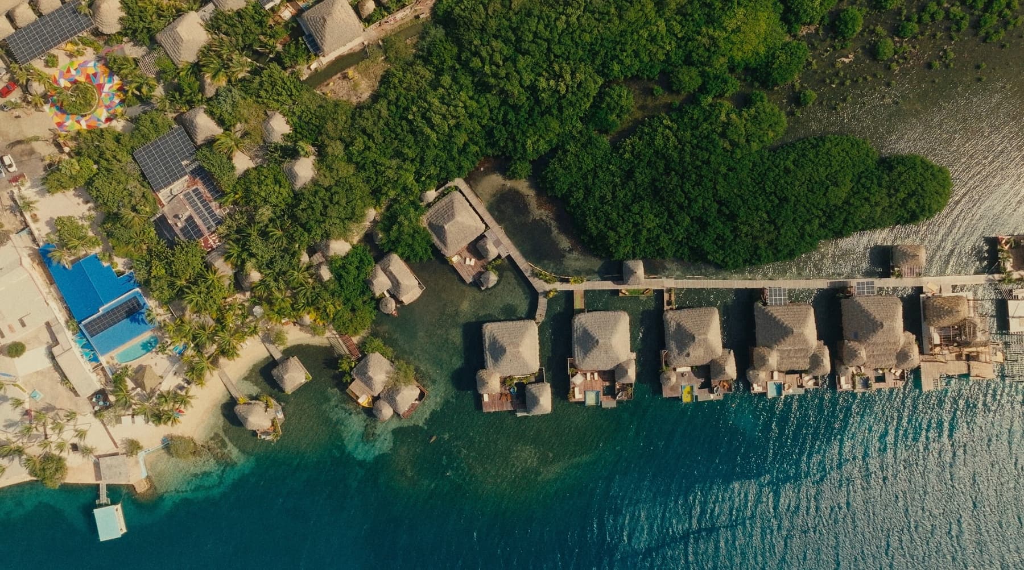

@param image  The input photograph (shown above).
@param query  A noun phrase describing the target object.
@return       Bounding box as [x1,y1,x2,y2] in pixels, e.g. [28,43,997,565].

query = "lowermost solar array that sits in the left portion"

[83,296,143,339]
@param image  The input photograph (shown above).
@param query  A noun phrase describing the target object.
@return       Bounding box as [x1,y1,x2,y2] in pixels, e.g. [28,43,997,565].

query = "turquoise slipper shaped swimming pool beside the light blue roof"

[113,332,160,365]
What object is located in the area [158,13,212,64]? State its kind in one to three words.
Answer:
house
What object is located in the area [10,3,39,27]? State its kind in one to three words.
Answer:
house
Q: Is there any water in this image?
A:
Yes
